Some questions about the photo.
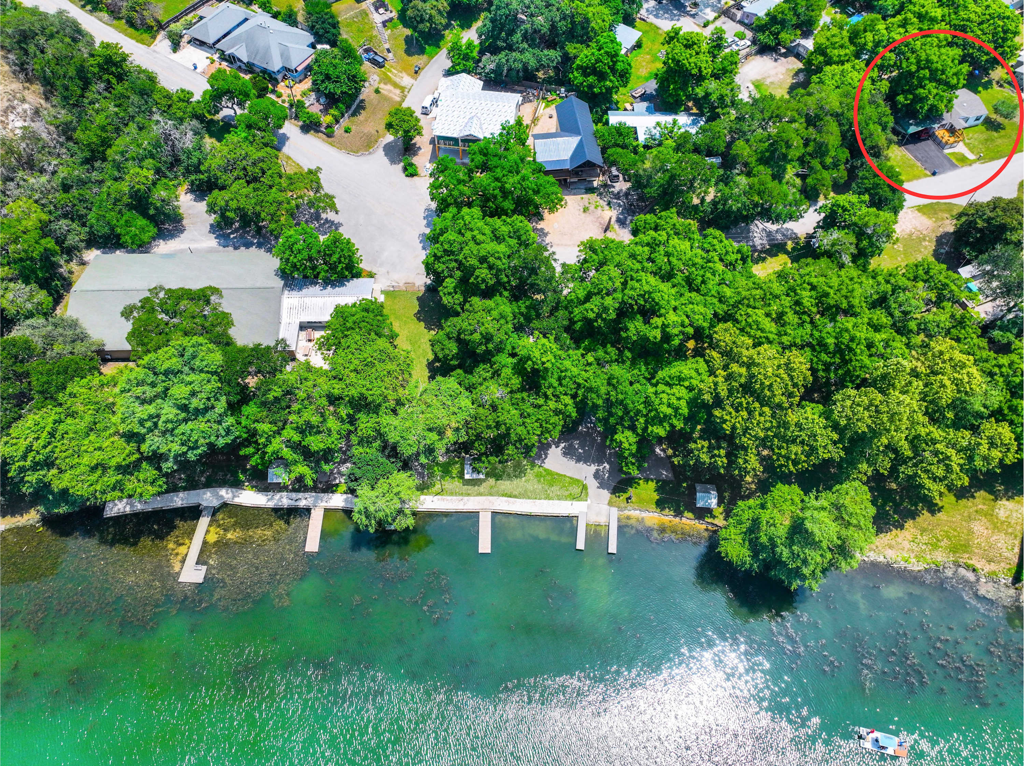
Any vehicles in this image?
Yes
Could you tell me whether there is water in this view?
Yes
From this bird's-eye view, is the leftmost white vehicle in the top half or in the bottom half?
top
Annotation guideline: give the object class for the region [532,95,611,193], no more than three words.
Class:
house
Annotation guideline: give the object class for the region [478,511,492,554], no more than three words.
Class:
pier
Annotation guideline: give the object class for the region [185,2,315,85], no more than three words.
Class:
house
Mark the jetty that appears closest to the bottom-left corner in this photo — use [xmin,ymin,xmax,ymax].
[178,507,217,584]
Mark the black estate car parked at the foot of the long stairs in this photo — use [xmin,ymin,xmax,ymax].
[365,51,389,68]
